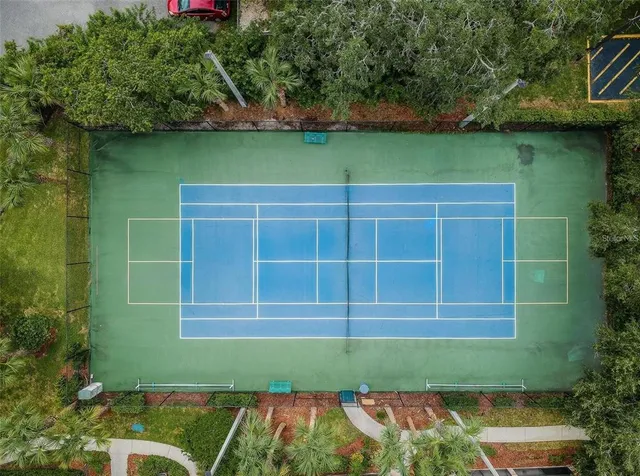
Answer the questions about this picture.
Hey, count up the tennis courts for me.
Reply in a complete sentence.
There is 1 tennis court in the image.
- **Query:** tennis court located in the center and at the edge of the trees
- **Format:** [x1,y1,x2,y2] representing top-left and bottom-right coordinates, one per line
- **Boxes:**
[90,131,604,391]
